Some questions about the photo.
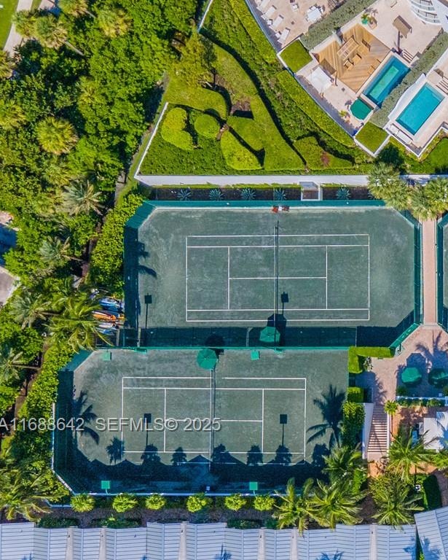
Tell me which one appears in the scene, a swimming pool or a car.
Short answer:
swimming pool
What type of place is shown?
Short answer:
sports ground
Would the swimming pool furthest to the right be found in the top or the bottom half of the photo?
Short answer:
top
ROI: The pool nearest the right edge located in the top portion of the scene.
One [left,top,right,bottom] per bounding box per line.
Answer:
[398,81,447,138]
